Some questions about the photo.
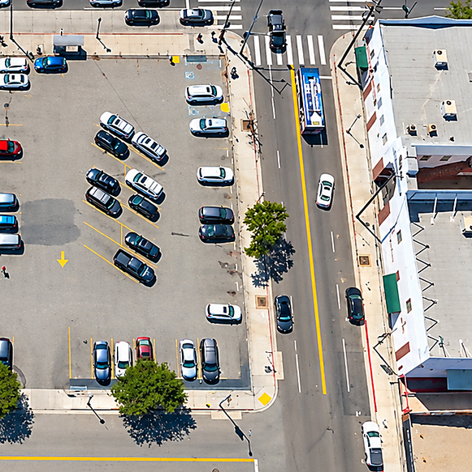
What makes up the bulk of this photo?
paved ground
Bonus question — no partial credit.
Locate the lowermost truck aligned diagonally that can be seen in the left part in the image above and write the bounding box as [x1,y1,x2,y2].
[112,249,156,286]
